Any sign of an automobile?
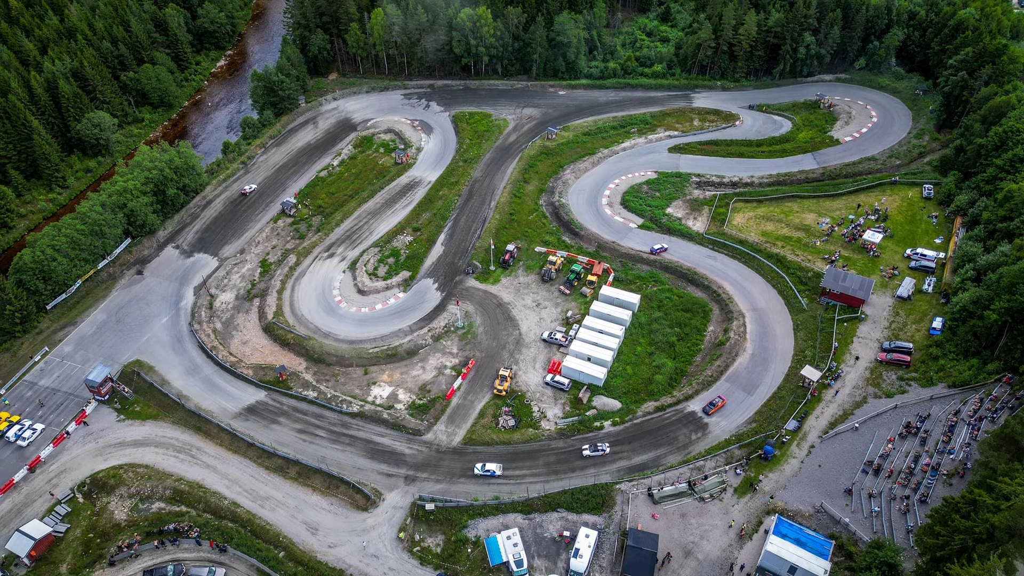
Yes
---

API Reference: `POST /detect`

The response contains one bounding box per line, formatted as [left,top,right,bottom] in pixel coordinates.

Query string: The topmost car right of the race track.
[922,182,936,198]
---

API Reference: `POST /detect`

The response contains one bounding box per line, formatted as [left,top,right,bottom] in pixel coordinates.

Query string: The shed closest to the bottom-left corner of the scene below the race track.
[6,519,58,565]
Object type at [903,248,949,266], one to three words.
vehicle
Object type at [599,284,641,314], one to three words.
building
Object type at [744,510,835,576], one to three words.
building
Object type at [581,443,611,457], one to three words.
car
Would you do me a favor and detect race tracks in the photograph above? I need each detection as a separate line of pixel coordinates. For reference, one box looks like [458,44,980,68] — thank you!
[0,82,912,500]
